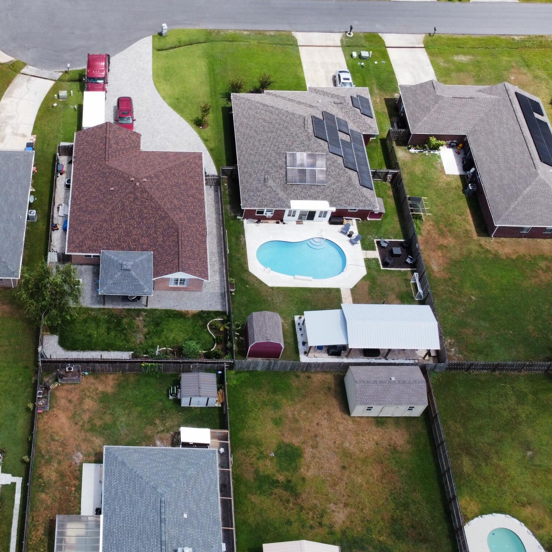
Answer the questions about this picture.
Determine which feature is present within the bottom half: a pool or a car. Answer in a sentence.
The one visible within the bottom half is a pool.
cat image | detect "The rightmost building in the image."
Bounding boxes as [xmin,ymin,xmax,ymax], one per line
[398,79,552,240]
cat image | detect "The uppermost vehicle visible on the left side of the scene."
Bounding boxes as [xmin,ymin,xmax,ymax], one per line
[82,48,110,107]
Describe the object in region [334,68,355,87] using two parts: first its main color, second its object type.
white car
